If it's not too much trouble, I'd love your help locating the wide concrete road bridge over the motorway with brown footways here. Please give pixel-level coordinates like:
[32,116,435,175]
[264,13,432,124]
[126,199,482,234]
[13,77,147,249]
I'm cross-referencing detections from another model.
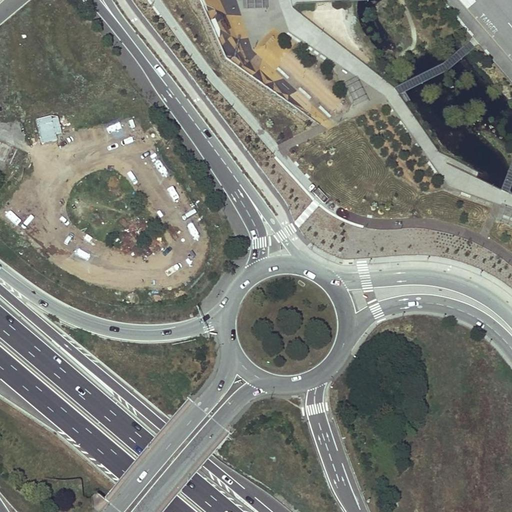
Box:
[104,398,230,512]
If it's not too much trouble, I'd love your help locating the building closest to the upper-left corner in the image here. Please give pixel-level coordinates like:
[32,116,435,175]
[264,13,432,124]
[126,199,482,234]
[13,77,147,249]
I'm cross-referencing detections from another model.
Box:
[36,114,61,144]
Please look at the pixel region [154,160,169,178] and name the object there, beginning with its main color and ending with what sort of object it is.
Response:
white camper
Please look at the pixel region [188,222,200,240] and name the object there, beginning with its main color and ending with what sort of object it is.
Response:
white vehicle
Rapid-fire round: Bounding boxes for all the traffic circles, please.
[188,234,378,432]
